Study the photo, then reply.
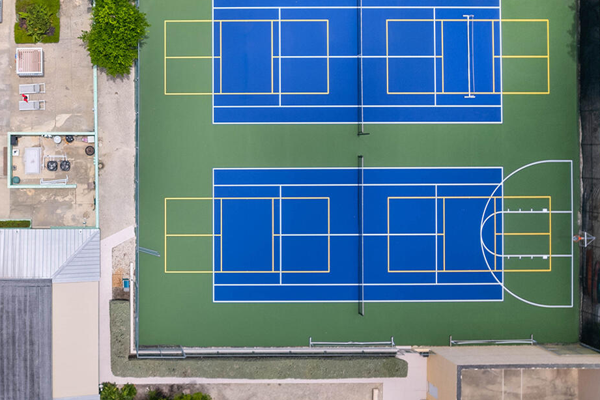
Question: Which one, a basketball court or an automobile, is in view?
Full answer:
Looking from above, you can make out a basketball court.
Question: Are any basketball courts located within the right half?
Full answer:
Yes, within the right half there is a basketball court.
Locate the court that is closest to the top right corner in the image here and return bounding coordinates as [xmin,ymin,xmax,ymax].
[387,19,550,94]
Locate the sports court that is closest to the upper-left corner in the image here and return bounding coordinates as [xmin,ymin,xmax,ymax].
[165,19,330,94]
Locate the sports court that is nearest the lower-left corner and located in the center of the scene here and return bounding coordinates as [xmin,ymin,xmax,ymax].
[165,197,330,273]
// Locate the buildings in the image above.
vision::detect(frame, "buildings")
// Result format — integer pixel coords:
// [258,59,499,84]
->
[0,228,101,400]
[428,348,600,400]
